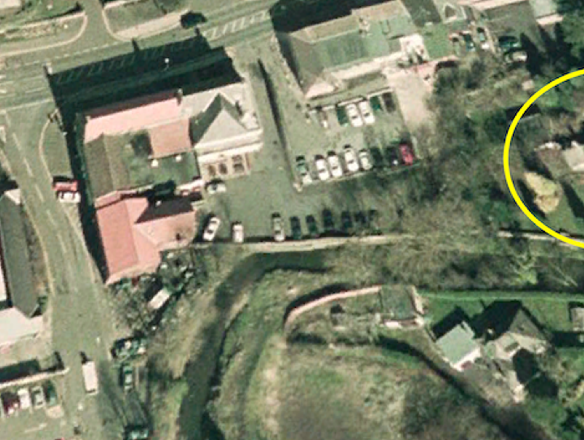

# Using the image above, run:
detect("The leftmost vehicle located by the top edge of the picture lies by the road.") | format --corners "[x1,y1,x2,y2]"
[180,13,205,26]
